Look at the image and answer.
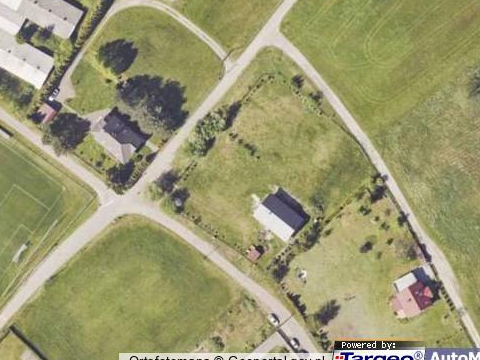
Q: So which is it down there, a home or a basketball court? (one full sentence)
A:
Of the two, only a home appears.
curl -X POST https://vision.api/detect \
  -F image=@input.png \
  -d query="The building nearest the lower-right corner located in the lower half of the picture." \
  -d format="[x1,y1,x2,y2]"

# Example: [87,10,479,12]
[396,282,435,318]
